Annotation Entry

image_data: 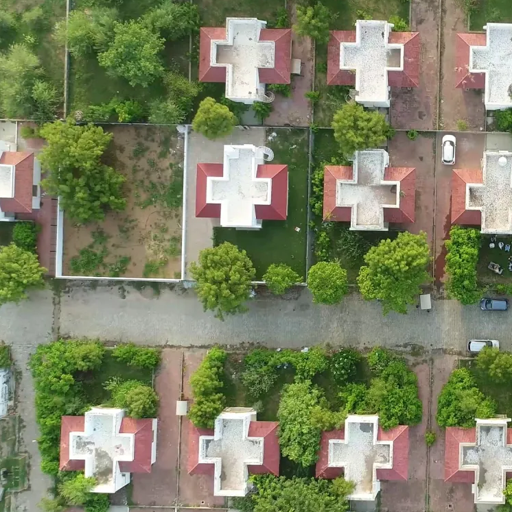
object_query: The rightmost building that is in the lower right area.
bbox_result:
[443,414,512,501]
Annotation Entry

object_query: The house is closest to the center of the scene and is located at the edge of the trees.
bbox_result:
[194,145,290,231]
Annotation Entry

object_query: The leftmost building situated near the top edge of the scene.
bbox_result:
[200,15,294,101]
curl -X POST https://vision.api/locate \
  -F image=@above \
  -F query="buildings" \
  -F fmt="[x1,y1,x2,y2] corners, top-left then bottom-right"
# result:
[327,18,421,104]
[187,409,282,496]
[60,404,158,492]
[0,138,43,220]
[200,15,294,101]
[194,145,290,231]
[316,411,409,499]
[323,148,416,234]
[451,152,512,237]
[455,21,512,106]
[443,414,512,501]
